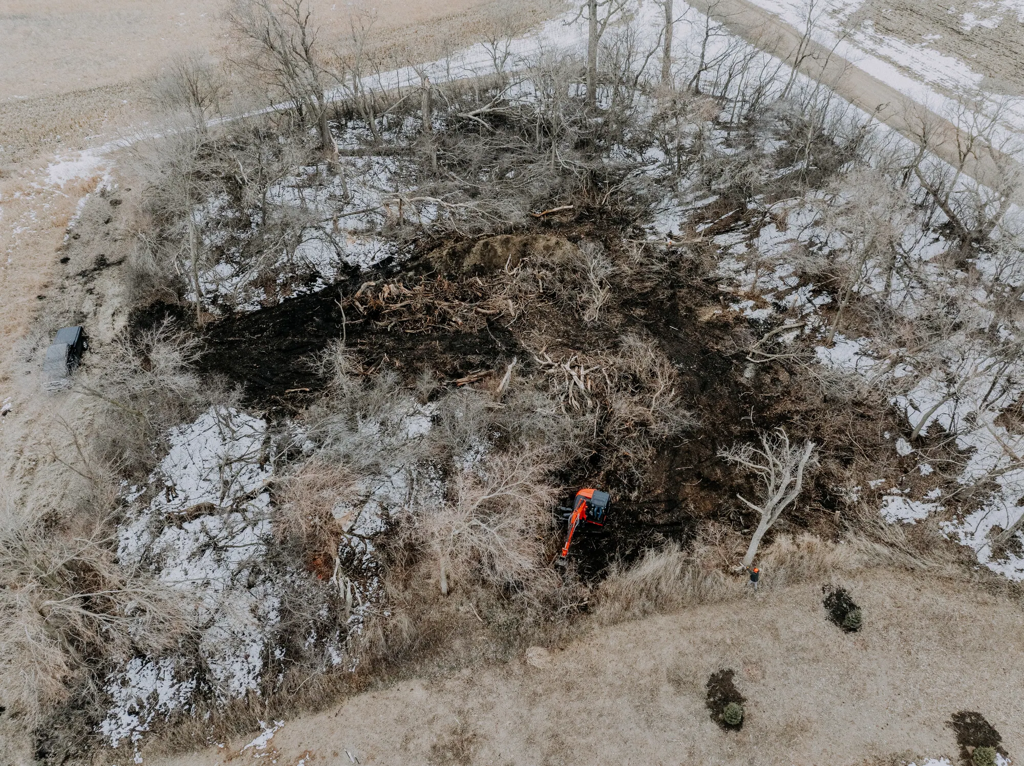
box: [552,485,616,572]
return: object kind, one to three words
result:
work vehicle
